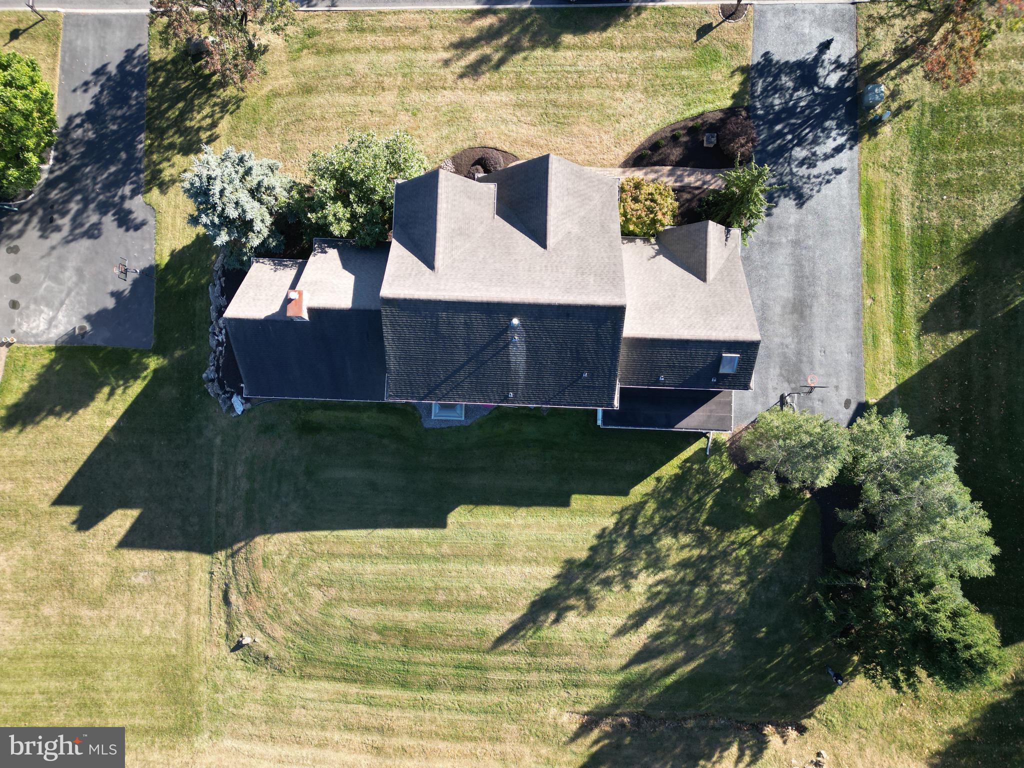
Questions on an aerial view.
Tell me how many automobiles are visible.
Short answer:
0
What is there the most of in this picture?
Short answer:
grass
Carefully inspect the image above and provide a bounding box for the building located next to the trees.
[226,155,765,454]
